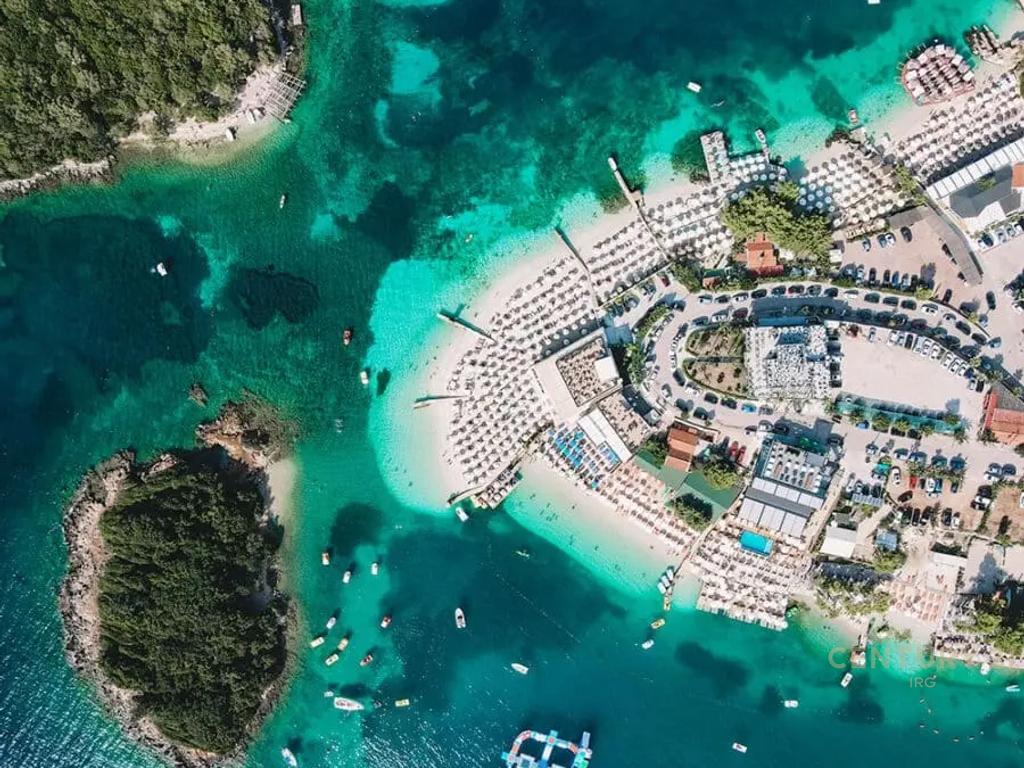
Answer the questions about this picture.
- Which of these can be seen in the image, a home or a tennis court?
home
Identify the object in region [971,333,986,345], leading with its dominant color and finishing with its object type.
black vehicle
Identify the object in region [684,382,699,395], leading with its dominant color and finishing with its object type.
white vehicle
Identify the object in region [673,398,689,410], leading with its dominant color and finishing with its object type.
black vehicle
